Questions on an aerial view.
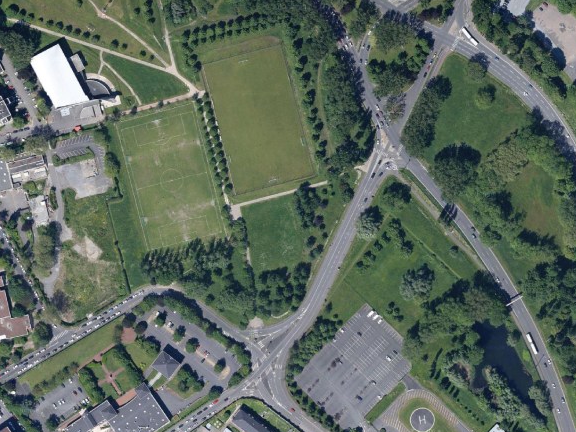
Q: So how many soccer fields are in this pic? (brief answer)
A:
two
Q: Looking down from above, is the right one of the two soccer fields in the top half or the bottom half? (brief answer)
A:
top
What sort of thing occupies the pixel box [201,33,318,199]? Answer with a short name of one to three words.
soccer field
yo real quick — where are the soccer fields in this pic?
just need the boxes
[201,33,318,199]
[115,103,227,252]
